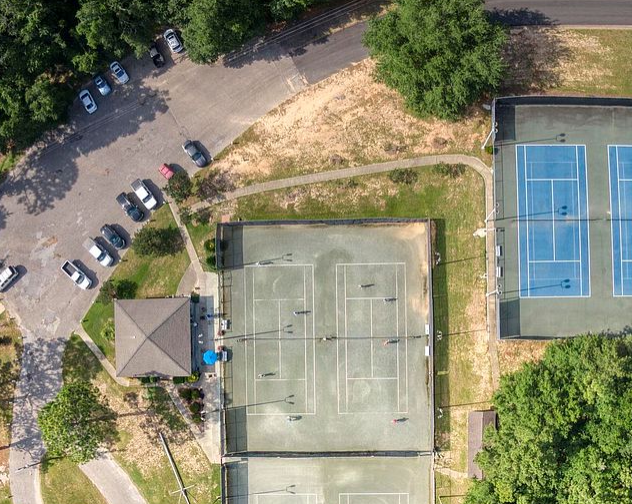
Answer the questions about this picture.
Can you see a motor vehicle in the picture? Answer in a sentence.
Yes, there is a motor vehicle in the image.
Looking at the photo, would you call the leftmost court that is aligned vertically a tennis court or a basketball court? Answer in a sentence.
The leftmost court that is aligned vertically is a tennis court.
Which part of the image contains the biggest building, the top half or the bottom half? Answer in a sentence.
You can find the biggest building in the bottom half.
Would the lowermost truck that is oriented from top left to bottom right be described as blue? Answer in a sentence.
No, the lowermost truck that is oriented from top left to bottom right is white.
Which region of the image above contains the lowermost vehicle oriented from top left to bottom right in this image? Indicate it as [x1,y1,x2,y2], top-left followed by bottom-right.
[56,257,91,291]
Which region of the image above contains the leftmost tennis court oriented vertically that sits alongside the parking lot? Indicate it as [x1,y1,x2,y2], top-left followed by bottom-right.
[222,223,328,455]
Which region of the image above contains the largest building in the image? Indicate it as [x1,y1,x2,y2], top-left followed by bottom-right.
[113,297,195,378]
